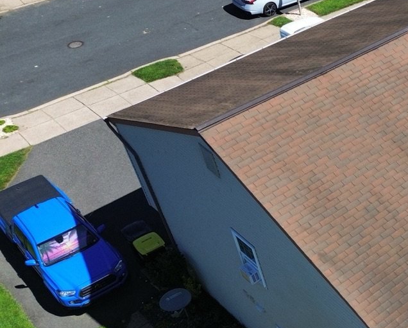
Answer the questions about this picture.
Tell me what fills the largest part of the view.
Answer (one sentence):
What you mostly see from above here is buildings.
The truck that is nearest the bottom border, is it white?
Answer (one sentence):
No, the truck that is nearest the bottom border is actually blue.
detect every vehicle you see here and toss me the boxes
[231,0,311,20]
[276,17,317,40]
[0,173,124,310]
